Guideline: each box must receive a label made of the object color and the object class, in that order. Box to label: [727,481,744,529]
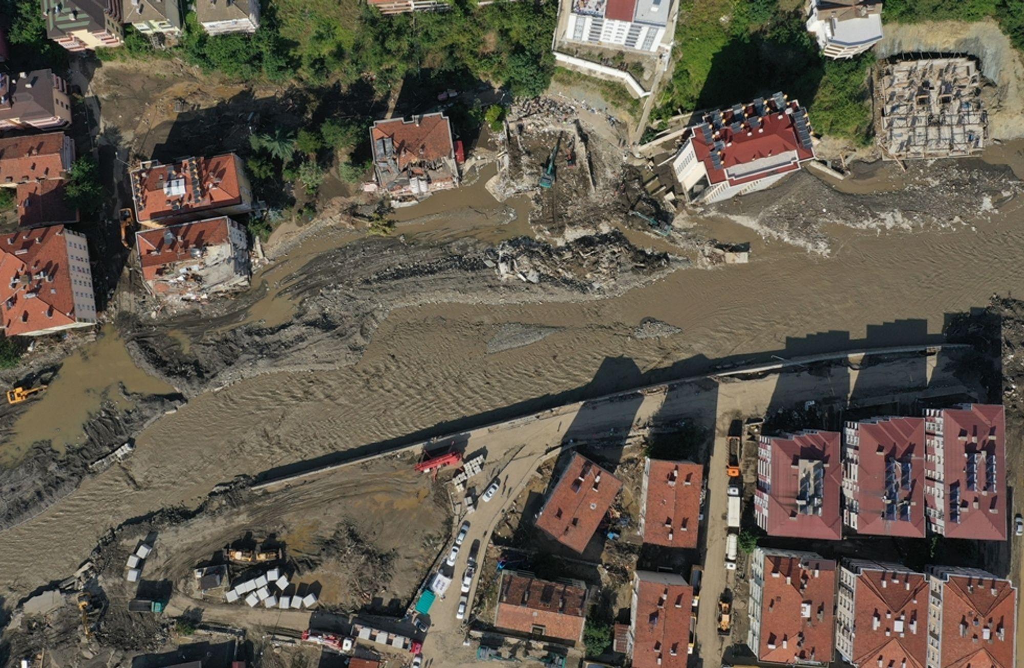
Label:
white vehicle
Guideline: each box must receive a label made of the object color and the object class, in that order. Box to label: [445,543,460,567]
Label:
white car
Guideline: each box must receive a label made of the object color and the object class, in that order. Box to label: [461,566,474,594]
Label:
white vehicle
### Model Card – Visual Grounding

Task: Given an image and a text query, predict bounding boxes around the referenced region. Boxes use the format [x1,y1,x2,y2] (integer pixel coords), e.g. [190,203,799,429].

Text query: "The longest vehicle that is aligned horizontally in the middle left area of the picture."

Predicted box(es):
[4,384,52,404]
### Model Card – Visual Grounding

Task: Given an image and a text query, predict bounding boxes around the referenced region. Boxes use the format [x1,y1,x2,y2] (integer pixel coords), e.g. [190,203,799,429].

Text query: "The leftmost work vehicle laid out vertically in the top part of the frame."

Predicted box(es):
[117,205,133,252]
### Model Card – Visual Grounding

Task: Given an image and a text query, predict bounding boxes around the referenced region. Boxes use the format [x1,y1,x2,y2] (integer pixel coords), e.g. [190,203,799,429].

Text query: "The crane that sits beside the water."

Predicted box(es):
[414,440,464,485]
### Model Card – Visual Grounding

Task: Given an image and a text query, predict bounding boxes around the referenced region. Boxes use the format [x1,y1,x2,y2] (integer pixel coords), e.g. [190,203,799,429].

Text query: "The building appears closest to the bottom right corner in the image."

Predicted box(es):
[923,564,1018,668]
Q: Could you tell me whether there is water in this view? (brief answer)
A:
Yes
